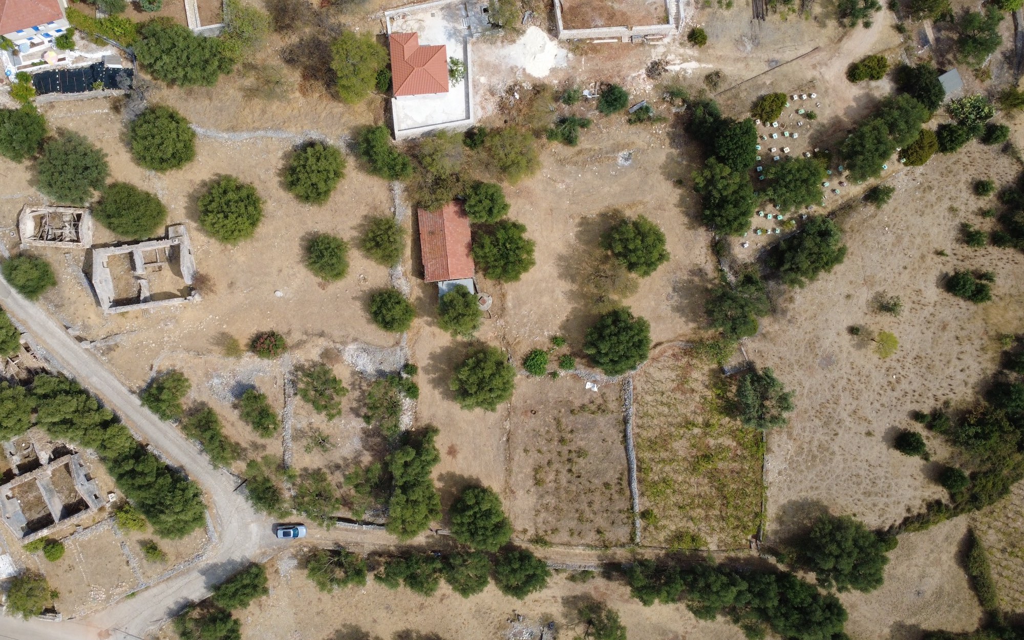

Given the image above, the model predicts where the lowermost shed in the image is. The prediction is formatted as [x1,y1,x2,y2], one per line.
[0,546,28,578]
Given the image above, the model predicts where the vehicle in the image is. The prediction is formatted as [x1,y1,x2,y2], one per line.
[278,524,308,540]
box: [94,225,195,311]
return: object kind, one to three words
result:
house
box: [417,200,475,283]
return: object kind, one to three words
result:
barn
